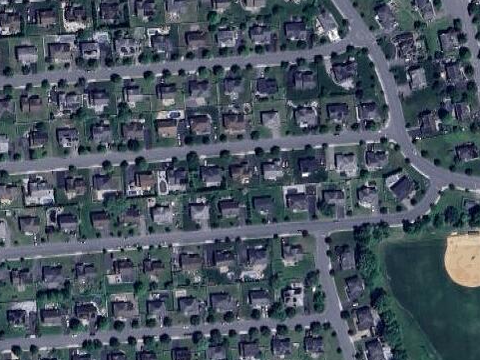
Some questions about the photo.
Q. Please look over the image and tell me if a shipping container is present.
No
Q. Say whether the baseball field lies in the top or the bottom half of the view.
bottom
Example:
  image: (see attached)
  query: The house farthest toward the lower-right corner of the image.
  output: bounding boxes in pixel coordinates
[365,340,388,360]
